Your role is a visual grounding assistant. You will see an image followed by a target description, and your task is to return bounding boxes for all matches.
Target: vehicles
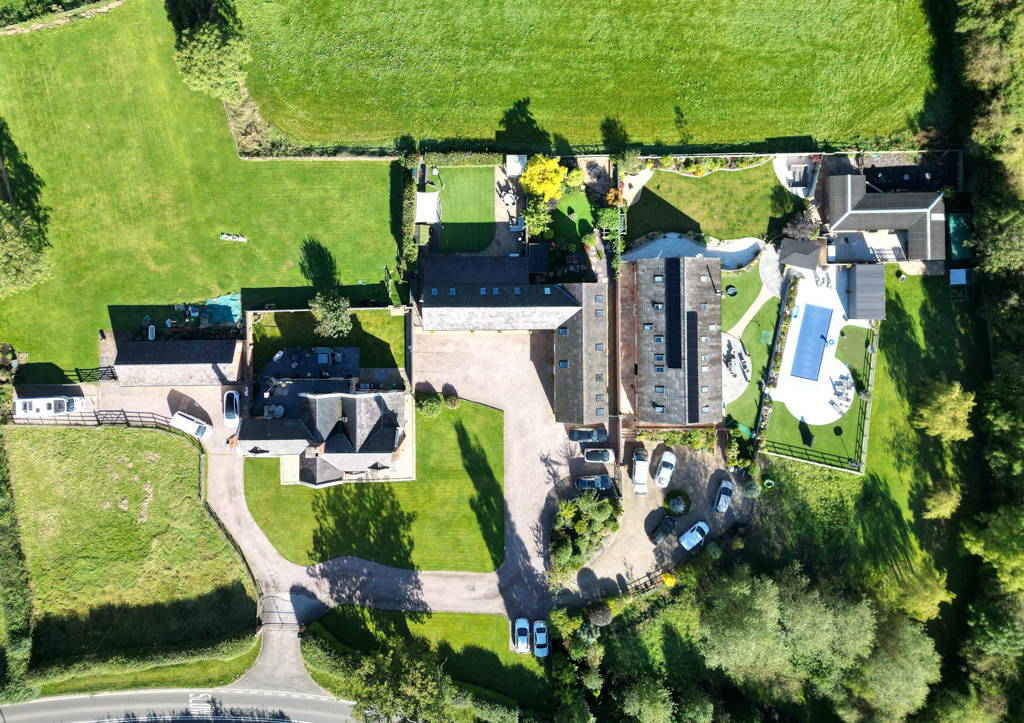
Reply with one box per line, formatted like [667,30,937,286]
[512,616,530,653]
[171,409,216,439]
[14,397,88,418]
[712,479,734,513]
[631,449,650,494]
[647,514,677,546]
[652,450,675,489]
[677,519,709,552]
[223,391,242,426]
[568,425,607,444]
[583,446,616,464]
[532,618,550,656]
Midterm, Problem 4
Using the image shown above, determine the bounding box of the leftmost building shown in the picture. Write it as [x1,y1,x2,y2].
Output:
[103,339,248,385]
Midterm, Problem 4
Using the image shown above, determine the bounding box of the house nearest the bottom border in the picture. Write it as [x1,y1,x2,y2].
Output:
[225,394,410,486]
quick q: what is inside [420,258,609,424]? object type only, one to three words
barn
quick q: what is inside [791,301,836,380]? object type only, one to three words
swimming pool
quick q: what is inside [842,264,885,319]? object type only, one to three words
building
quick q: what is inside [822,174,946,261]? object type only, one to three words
shed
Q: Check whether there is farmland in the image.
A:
Yes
